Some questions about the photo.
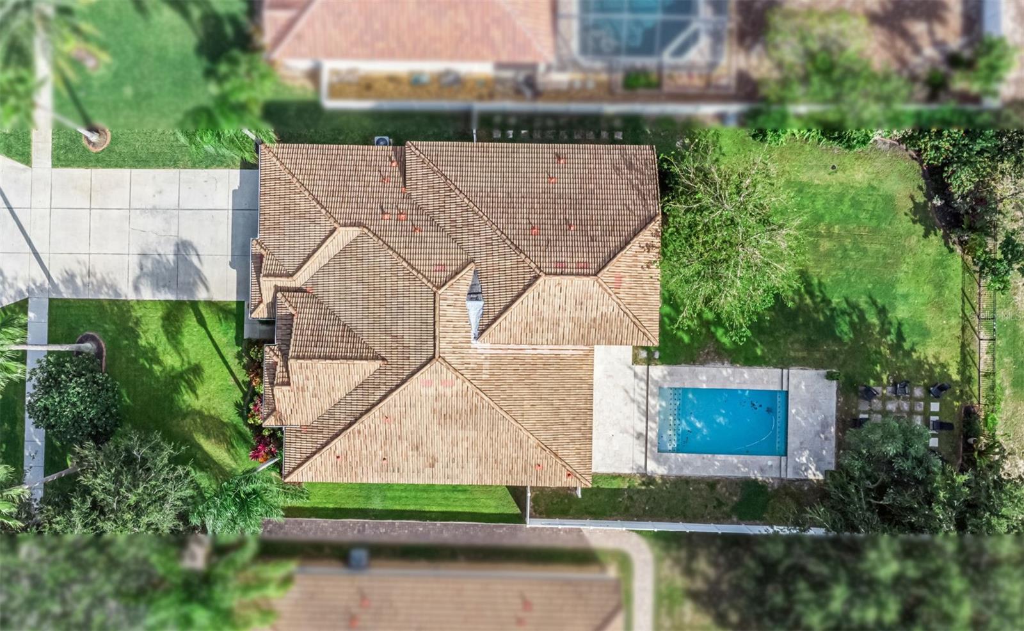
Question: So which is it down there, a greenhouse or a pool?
pool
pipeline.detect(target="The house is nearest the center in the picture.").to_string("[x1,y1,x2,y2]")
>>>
[248,139,663,496]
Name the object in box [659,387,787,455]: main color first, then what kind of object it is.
blue swimming pool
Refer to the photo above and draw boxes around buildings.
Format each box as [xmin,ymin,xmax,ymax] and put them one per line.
[248,139,663,496]
[265,0,557,71]
[271,559,623,631]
